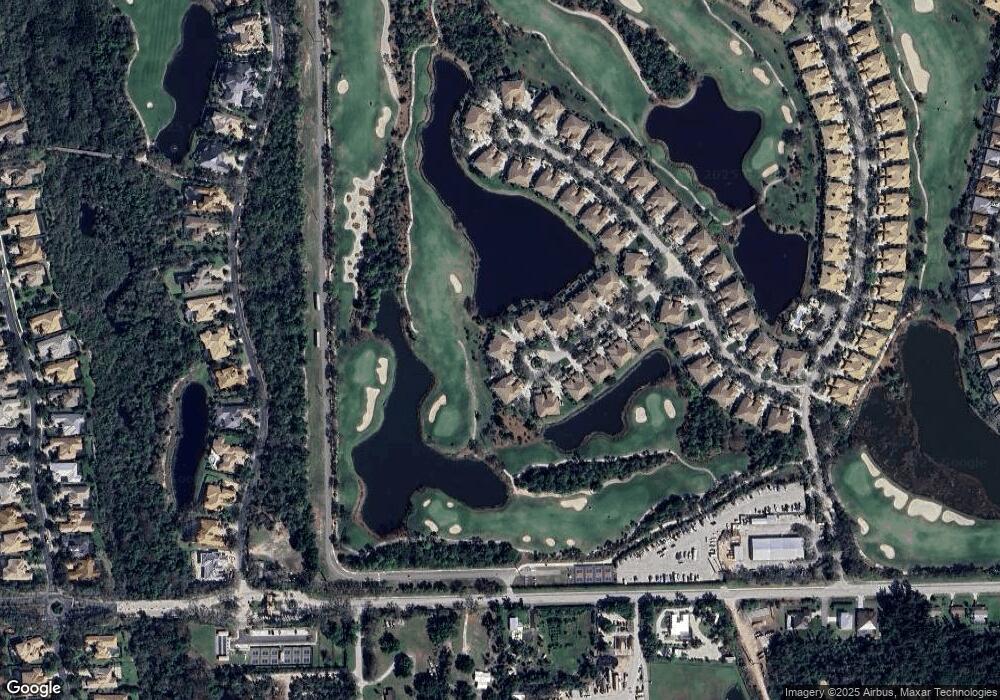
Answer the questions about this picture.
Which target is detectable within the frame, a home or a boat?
home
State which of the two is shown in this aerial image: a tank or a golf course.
golf course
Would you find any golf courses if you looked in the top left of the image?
Yes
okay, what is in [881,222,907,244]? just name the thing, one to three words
house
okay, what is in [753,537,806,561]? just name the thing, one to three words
building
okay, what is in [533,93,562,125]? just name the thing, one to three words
house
